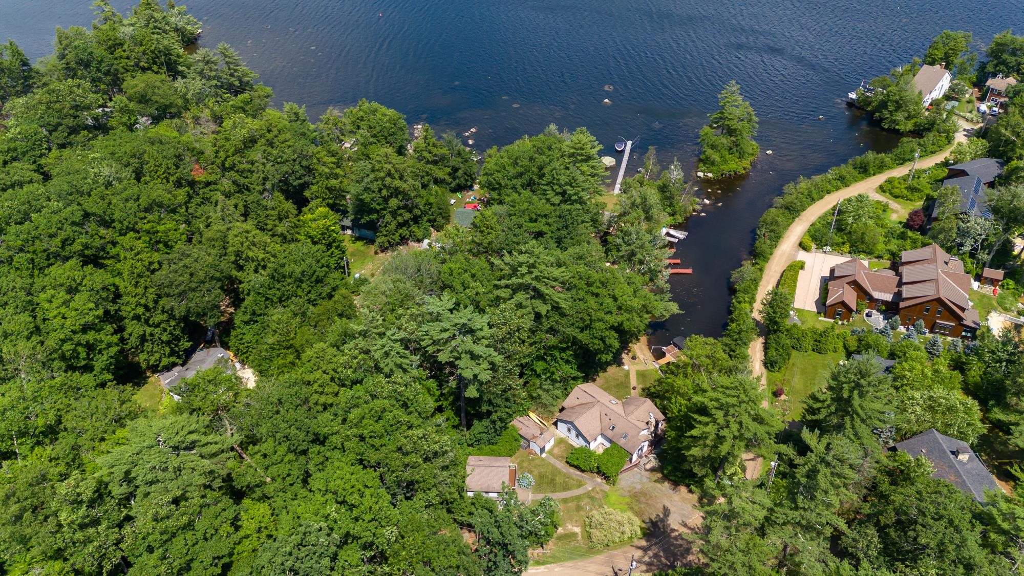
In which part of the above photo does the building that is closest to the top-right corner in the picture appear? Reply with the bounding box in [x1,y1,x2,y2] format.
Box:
[976,75,1024,109]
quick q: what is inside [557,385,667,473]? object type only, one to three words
house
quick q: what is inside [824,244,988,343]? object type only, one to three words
house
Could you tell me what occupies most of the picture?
trees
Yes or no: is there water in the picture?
Yes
